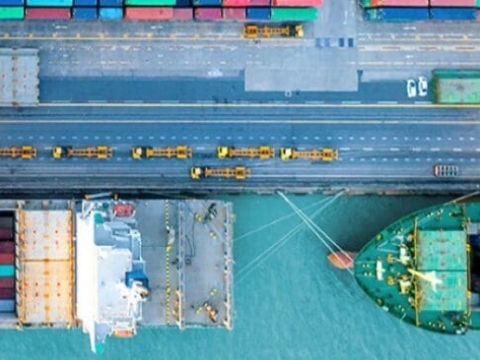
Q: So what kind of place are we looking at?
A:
port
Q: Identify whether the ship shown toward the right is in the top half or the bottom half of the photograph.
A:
bottom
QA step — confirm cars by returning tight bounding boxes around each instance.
[418,77,428,95]
[407,78,418,97]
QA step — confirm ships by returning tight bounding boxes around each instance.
[328,197,480,336]
[0,195,236,352]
